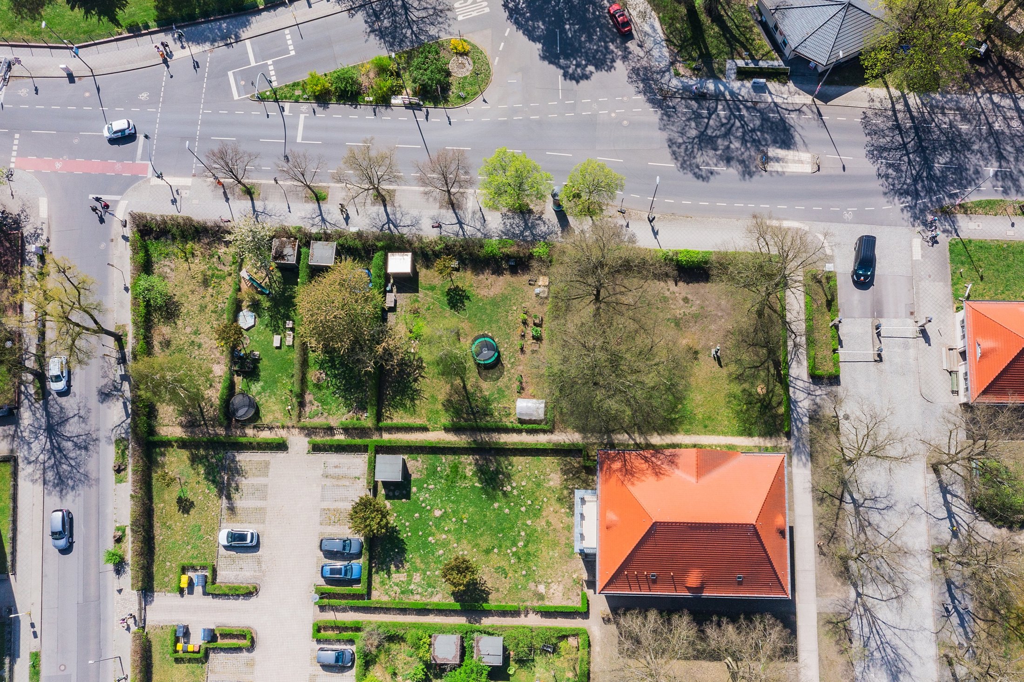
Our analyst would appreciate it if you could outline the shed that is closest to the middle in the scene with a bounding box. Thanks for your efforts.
[387,253,412,276]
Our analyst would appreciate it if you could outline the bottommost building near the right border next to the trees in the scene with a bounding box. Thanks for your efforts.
[937,300,1024,409]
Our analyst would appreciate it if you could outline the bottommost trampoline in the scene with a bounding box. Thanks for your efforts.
[227,395,259,422]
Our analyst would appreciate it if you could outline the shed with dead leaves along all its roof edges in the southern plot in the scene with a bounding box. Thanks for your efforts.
[432,634,460,664]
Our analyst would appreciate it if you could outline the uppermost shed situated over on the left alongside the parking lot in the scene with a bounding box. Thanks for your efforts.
[375,455,403,481]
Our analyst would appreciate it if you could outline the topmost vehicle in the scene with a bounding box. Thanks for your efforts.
[609,3,633,34]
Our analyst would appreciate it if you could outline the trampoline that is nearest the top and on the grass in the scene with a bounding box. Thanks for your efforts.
[473,340,500,369]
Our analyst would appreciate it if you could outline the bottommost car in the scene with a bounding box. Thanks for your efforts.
[316,647,354,668]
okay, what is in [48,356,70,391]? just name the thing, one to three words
car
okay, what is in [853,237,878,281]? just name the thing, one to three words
vehicle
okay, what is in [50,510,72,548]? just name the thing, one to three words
car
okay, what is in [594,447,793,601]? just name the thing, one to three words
house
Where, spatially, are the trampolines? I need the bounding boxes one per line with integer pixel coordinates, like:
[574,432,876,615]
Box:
[227,395,259,422]
[473,340,500,369]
